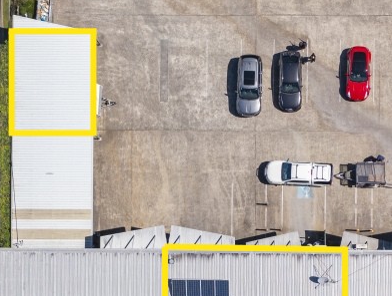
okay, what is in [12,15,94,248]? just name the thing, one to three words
shed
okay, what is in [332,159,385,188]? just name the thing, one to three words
trailer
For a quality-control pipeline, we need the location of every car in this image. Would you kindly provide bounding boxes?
[276,48,305,111]
[264,158,333,186]
[345,43,374,101]
[233,53,263,116]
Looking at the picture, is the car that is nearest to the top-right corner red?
Yes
